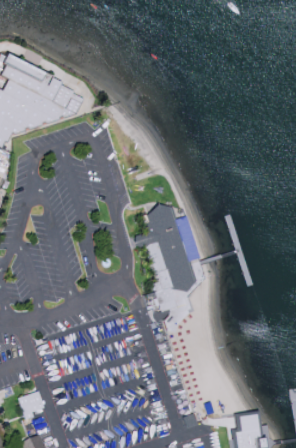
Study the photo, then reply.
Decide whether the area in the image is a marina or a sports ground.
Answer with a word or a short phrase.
marina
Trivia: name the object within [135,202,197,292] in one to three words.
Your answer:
building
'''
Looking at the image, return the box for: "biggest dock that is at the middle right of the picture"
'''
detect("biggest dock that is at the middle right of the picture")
[225,214,252,288]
